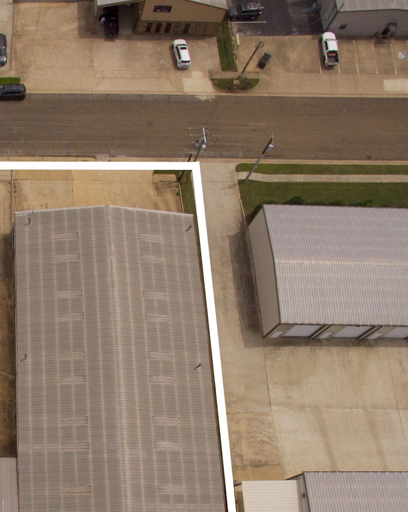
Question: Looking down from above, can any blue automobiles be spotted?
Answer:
No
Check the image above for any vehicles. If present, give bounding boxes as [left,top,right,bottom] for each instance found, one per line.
[319,31,340,68]
[227,1,263,20]
[172,40,191,69]
[0,33,8,66]
[99,5,121,37]
[0,83,27,101]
